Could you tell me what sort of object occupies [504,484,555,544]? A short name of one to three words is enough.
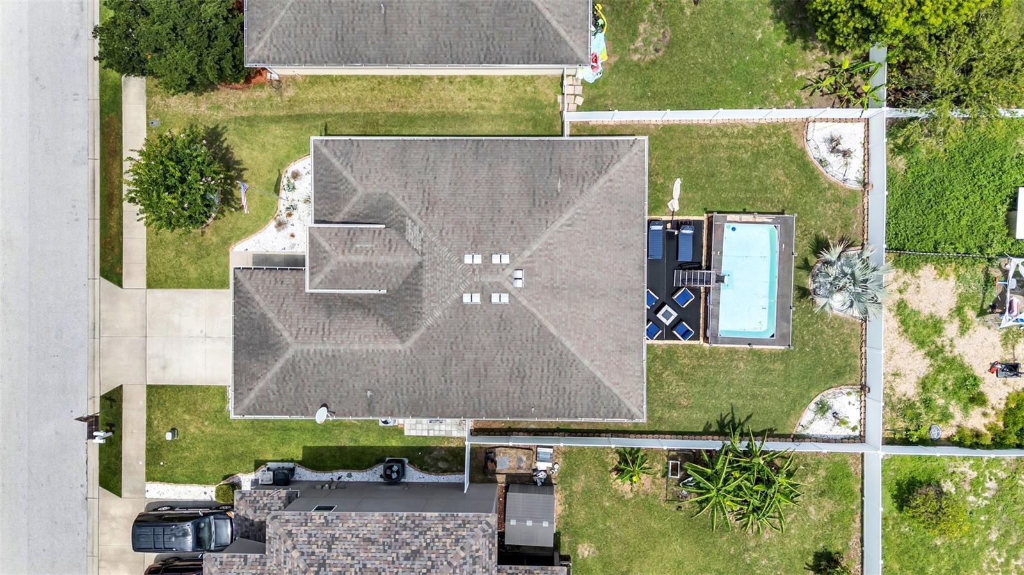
shed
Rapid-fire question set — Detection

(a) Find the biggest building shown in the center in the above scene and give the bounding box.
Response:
[231,137,647,420]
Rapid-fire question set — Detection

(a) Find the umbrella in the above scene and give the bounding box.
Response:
[668,178,681,229]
